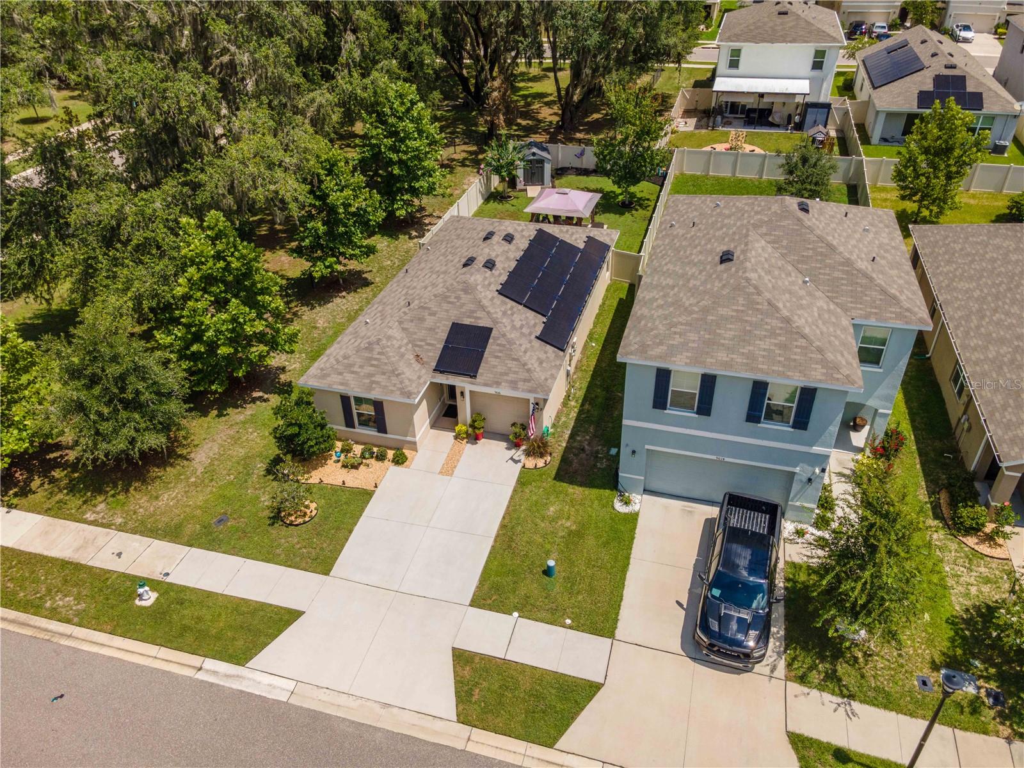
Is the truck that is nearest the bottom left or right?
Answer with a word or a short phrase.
right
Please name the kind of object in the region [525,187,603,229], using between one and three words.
gazebo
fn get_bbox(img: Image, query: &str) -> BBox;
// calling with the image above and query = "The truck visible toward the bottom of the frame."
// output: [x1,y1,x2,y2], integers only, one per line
[695,493,787,672]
